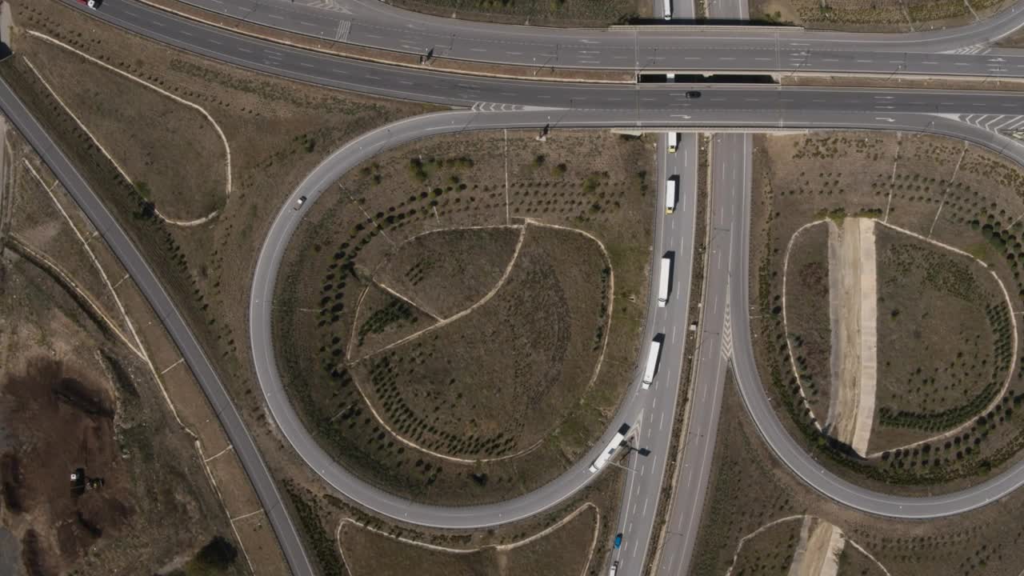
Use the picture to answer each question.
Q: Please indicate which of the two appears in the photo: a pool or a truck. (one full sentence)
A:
Of the two, only a truck appears.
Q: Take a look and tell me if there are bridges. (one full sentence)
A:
Yes, the picture does show a bridge.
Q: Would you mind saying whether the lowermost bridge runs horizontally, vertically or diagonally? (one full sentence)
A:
Seen from above, the lowermost bridge lies horizontally.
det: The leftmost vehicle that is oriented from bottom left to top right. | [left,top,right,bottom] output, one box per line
[293,195,306,211]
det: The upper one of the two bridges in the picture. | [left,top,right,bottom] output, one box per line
[608,26,806,79]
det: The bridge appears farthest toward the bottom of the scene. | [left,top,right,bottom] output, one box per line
[610,83,809,135]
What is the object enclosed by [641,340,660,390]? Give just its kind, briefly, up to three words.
vehicle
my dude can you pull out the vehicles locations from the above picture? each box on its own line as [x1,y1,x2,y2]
[667,74,676,83]
[667,132,676,154]
[609,562,617,576]
[68,0,99,12]
[662,0,672,21]
[70,473,81,495]
[665,180,675,221]
[658,258,669,307]
[641,340,660,390]
[293,195,306,211]
[614,535,622,549]
[686,92,701,98]
[589,431,623,473]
